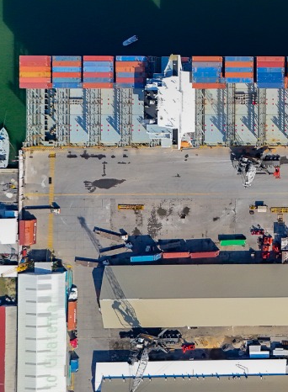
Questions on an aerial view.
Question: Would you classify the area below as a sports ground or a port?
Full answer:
The picture captures a port.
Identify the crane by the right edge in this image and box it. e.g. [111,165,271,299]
[230,146,280,190]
